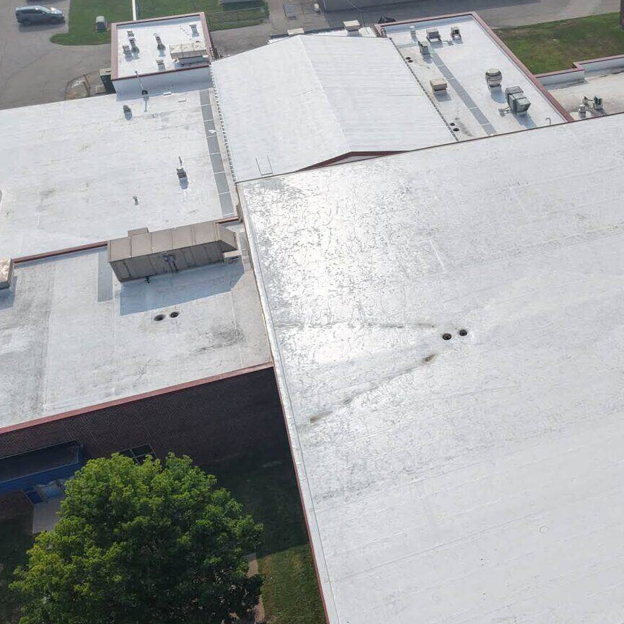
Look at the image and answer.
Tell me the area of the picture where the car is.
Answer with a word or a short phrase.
top left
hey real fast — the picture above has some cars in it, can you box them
[8,1,64,25]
